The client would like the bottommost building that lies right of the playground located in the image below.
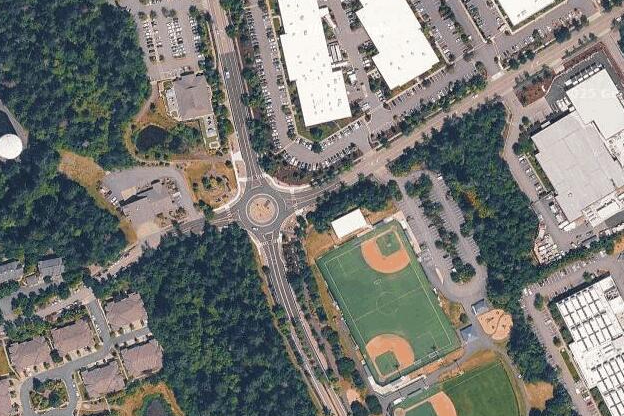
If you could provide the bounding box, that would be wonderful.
[556,276,624,416]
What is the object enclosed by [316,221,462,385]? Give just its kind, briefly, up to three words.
sports field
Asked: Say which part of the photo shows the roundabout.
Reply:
center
